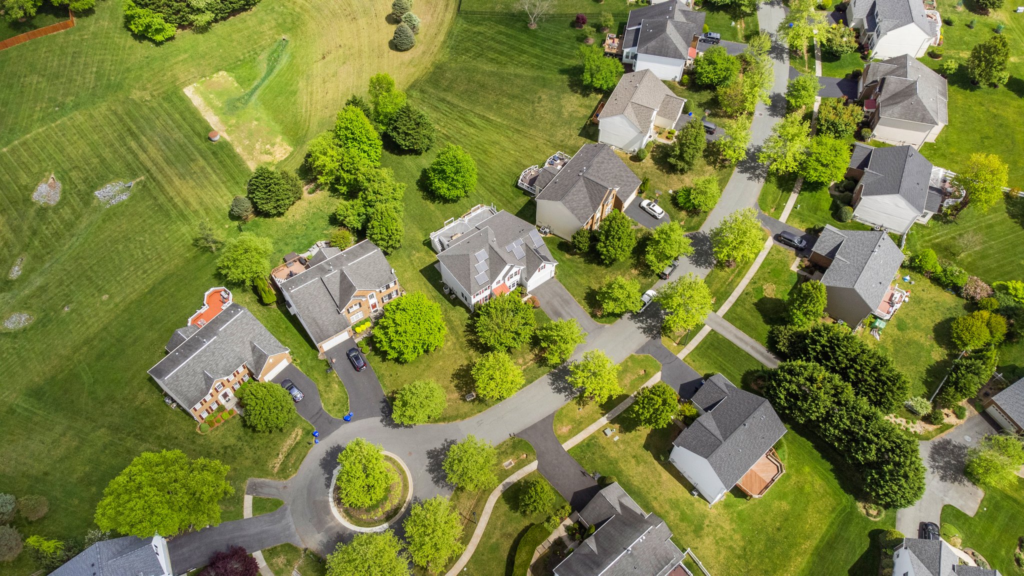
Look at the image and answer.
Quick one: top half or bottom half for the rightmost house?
bottom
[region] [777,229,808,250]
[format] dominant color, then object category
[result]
gray car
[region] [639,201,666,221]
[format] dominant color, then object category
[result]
white car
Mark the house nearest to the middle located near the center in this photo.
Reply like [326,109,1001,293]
[436,206,561,313]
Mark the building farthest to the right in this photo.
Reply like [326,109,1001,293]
[986,374,1024,446]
